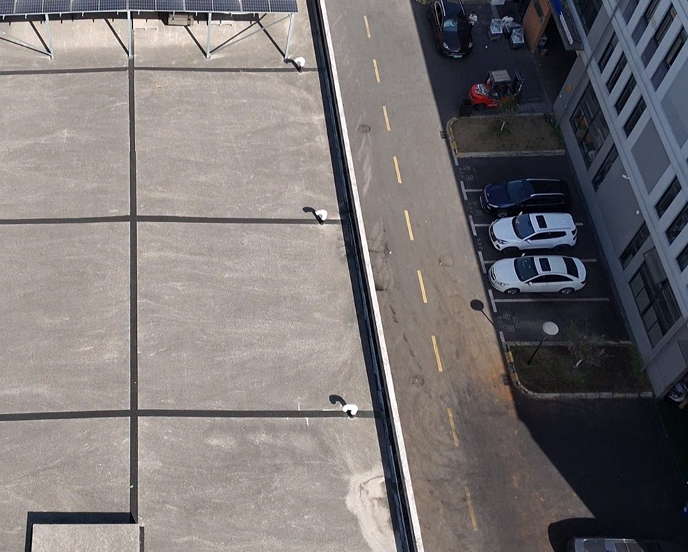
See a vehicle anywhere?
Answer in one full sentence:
Yes, there's a vehicle here.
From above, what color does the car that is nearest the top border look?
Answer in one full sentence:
From above, the car that is nearest the top border appears black.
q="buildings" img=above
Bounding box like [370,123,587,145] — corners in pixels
[514,0,688,491]
[0,0,424,552]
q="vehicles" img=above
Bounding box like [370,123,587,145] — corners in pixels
[430,0,477,54]
[491,208,583,252]
[471,68,530,107]
[492,249,593,294]
[478,173,573,216]
[567,528,687,552]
